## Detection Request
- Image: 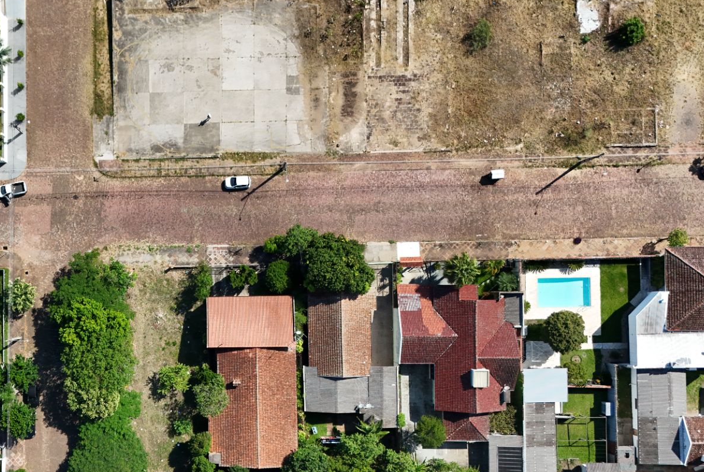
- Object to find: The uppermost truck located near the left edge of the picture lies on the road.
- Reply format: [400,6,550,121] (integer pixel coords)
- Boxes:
[0,181,29,204]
